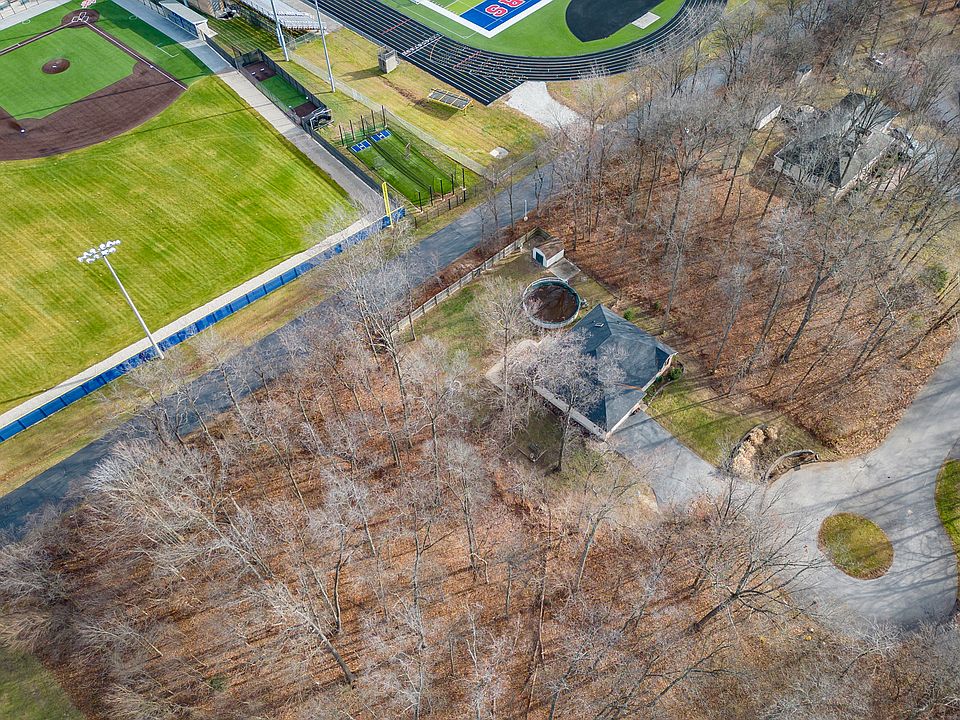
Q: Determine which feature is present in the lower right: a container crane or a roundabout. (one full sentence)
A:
What appears in the lower right is a roundabout.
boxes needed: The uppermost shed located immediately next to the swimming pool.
[532,235,566,267]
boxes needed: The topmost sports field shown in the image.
[374,0,682,55]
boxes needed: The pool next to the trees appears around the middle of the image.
[522,281,580,330]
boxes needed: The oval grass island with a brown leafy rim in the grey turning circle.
[820,515,892,578]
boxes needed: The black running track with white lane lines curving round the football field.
[296,0,730,101]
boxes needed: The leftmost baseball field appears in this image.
[0,0,403,441]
